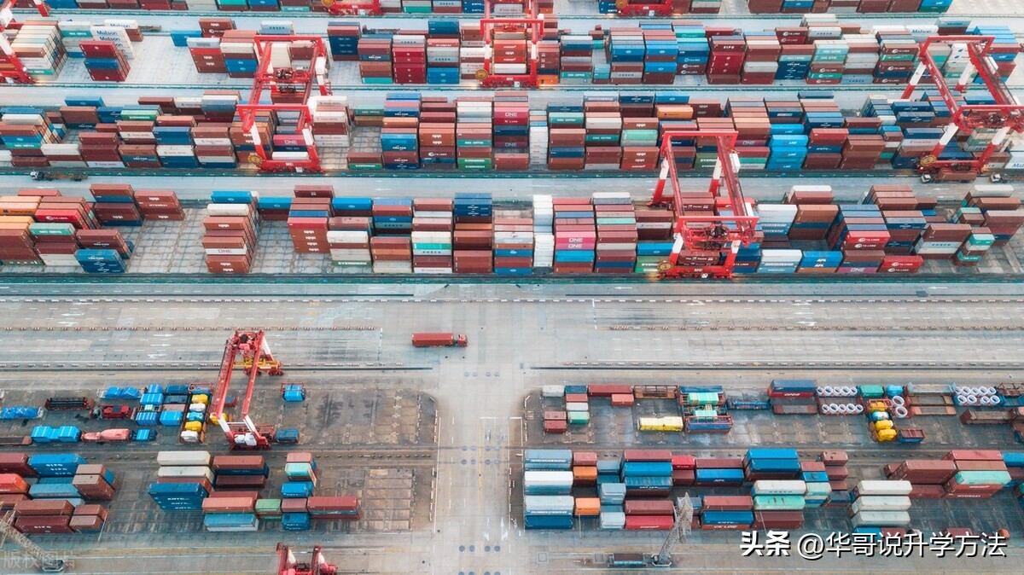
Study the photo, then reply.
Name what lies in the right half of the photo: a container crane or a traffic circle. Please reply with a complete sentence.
What appears in the right half of the photo is a container crane.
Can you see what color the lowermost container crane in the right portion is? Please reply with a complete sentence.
The lowermost container crane in the right portion is red.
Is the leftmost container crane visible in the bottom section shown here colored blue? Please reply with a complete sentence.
No, the color of the leftmost container crane visible in the bottom section is red.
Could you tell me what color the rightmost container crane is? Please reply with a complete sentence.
The color of the rightmost container crane is red.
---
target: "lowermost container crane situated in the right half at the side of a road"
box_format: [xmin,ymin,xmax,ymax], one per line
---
[646,134,759,280]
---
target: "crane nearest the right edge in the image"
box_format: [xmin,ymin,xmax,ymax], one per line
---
[894,40,1024,172]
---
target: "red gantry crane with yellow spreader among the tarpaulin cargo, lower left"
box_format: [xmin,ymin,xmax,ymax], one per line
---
[209,329,287,448]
